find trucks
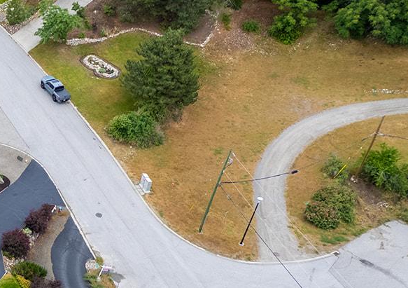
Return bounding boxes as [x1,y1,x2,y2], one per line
[38,71,72,100]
